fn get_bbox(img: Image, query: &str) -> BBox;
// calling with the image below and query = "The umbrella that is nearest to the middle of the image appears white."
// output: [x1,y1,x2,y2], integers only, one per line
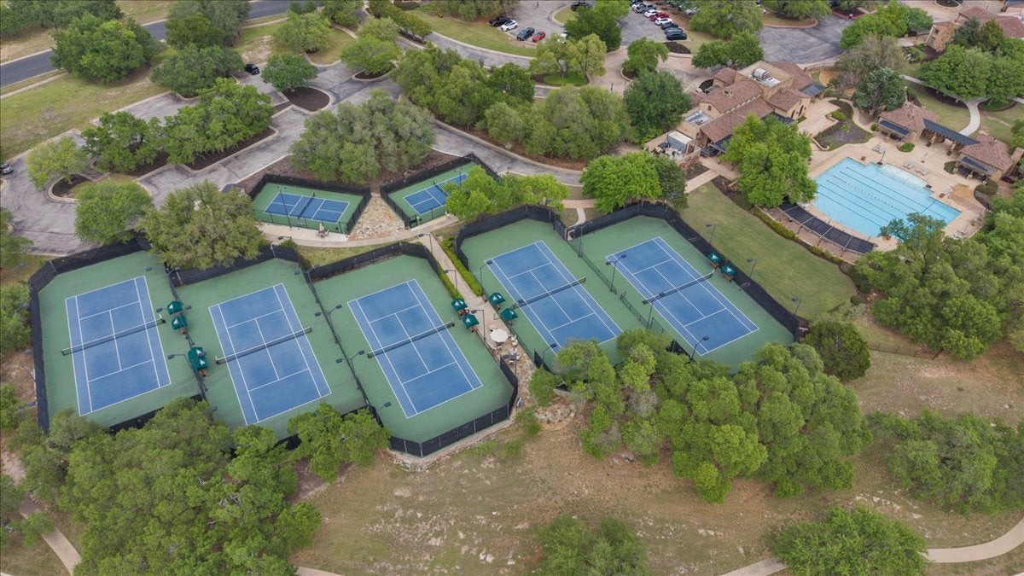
[489,329,508,346]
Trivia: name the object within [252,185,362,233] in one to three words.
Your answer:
sports court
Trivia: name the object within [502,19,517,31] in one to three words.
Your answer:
vehicle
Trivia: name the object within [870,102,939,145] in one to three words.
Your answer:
building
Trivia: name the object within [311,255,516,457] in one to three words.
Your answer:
tennis court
